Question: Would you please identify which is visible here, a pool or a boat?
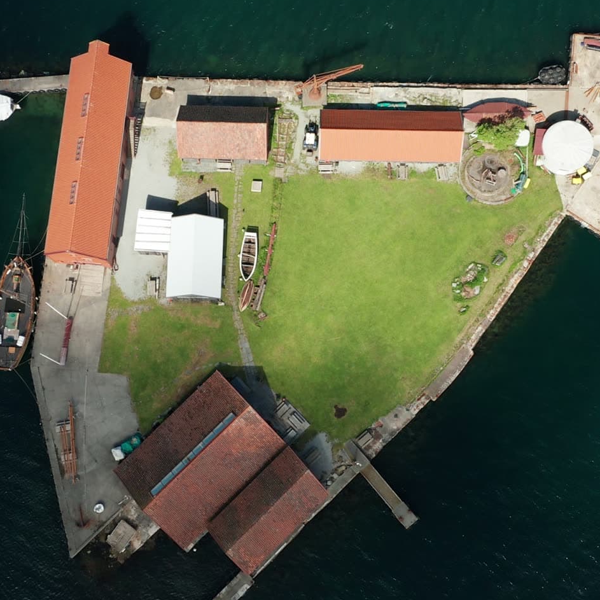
boat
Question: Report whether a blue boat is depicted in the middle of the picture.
No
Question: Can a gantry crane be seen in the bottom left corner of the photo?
No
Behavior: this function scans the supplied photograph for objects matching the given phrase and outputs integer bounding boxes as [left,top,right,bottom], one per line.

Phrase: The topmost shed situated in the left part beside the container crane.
[177,105,268,168]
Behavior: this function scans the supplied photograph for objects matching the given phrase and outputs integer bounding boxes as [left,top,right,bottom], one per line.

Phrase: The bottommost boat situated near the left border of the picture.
[0,196,38,373]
